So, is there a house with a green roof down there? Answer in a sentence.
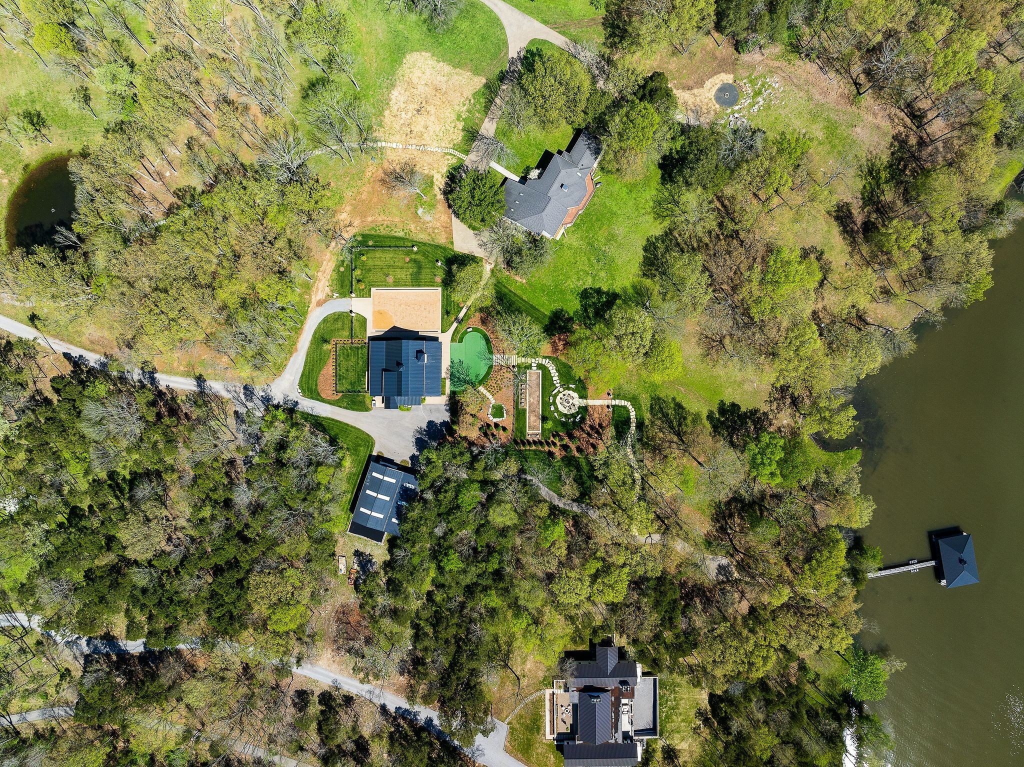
No, there is no house with a green roof in the image.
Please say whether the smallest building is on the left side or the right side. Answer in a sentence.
It is on the right.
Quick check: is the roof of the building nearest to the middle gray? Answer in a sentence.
No, the color of the roof of the building nearest to the middle is blue.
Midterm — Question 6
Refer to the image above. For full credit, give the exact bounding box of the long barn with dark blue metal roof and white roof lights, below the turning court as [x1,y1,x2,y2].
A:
[348,461,418,544]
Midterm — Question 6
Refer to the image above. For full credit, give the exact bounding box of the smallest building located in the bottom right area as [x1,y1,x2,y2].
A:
[933,534,980,588]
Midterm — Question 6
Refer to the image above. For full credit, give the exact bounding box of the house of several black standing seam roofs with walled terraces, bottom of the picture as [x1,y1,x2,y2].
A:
[545,631,659,766]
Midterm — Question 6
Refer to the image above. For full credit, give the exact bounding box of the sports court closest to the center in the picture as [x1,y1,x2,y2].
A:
[518,371,541,440]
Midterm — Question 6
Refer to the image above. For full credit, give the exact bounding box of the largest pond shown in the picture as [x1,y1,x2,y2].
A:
[9,153,120,252]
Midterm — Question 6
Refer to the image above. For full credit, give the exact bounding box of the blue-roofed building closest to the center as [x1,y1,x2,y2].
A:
[369,340,442,409]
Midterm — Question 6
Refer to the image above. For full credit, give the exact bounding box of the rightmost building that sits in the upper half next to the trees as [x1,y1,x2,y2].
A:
[503,130,604,241]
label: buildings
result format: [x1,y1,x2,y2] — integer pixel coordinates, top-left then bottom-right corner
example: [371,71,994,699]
[348,461,418,544]
[503,130,604,241]
[369,340,442,409]
[933,534,980,588]
[545,631,659,766]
